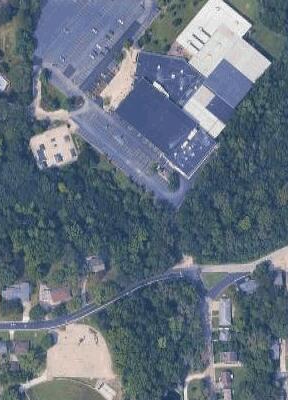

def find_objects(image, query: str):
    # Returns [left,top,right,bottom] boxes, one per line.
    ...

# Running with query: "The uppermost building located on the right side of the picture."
[115,0,271,178]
